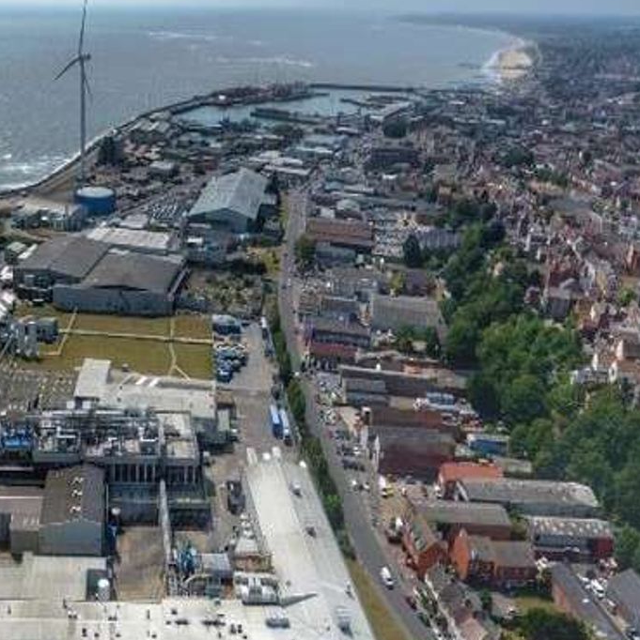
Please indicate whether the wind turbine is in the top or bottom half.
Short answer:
top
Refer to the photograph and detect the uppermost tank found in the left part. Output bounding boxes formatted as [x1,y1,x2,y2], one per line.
[74,188,115,217]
